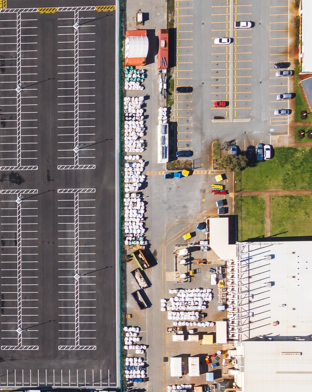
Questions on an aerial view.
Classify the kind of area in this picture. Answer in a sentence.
This looks like a parking lot.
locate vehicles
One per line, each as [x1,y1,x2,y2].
[177,150,192,157]
[255,144,262,160]
[233,21,251,28]
[263,145,271,160]
[214,101,227,108]
[246,146,254,161]
[277,94,292,100]
[276,69,291,77]
[177,86,192,93]
[274,110,289,116]
[215,37,230,44]
[274,62,289,69]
